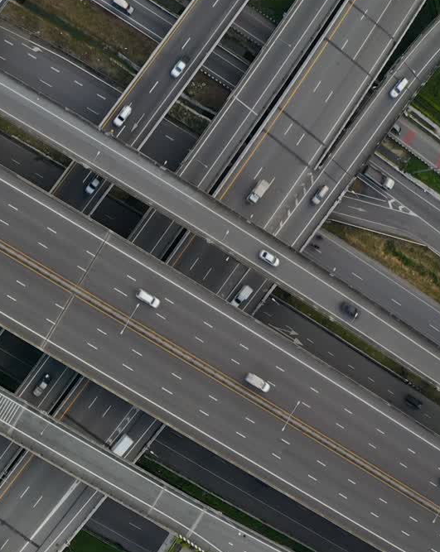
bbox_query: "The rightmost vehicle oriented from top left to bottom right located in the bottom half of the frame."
[403,393,424,410]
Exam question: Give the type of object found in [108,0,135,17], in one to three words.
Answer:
vehicle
